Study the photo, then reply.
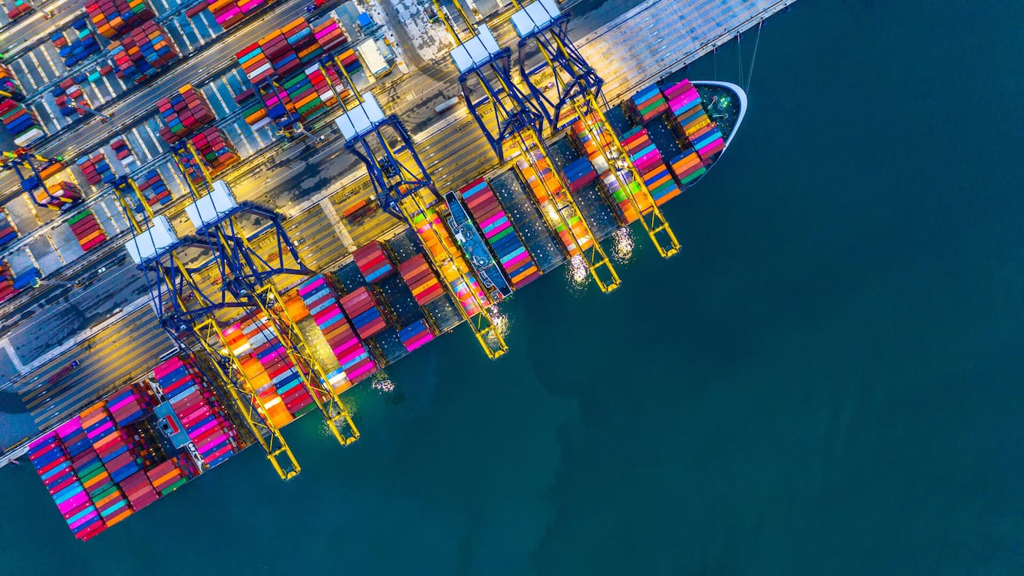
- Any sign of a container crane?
Yes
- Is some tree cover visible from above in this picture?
No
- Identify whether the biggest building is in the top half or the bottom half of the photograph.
top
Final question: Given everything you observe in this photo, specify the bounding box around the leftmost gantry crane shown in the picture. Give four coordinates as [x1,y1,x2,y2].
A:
[9,151,87,213]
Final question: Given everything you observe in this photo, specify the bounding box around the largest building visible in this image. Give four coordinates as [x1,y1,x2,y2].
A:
[359,40,389,77]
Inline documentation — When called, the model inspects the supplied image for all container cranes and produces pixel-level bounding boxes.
[102,172,299,482]
[429,0,621,292]
[313,49,507,359]
[513,0,682,256]
[9,151,87,213]
[251,71,318,142]
[165,135,361,445]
